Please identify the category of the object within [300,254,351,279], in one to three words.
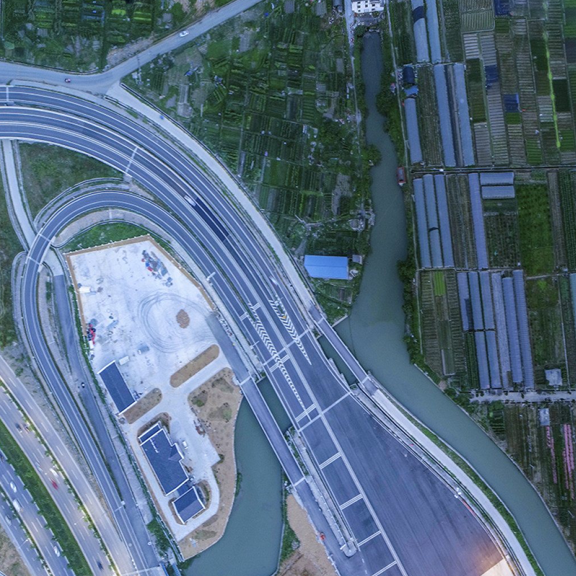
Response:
shed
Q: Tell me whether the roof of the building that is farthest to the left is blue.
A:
Yes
